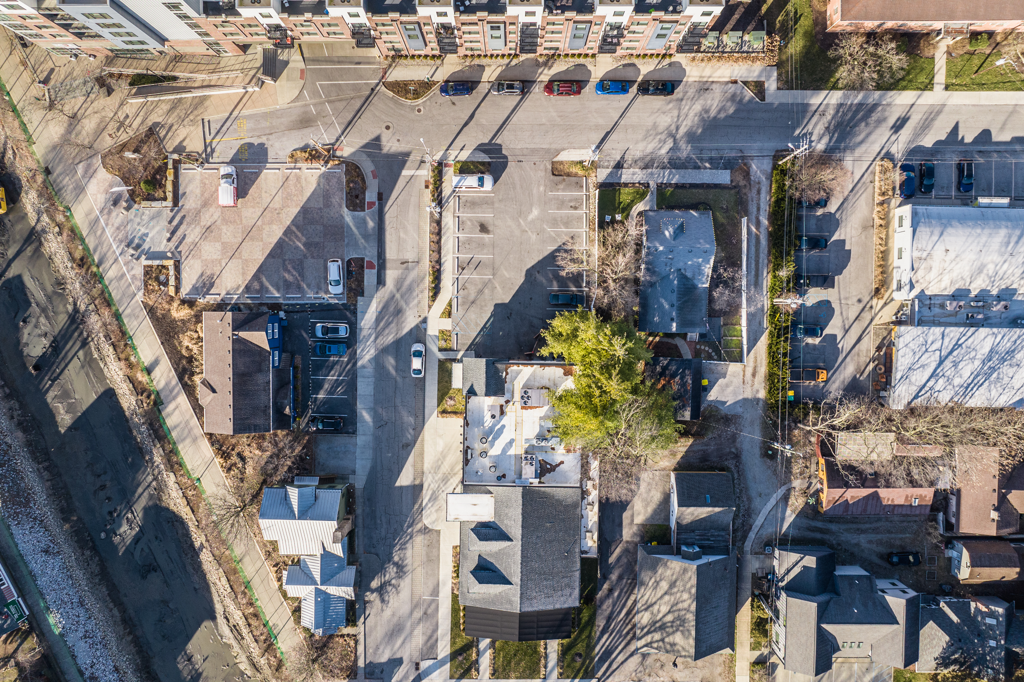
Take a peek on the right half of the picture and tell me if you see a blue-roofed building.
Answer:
Yes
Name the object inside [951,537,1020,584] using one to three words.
shed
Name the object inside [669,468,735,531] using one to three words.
house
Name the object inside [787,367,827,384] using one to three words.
vehicle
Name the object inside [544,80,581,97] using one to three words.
car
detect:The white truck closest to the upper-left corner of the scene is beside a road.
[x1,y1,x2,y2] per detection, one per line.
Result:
[214,162,237,215]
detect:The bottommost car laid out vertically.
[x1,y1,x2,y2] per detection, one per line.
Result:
[410,343,426,377]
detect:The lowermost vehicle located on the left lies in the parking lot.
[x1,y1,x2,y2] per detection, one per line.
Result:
[310,416,343,432]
